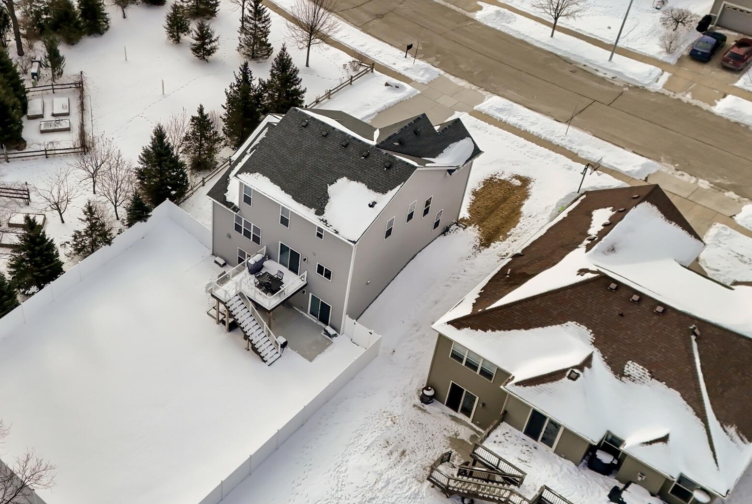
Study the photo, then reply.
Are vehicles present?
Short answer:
Yes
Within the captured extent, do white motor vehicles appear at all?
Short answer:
No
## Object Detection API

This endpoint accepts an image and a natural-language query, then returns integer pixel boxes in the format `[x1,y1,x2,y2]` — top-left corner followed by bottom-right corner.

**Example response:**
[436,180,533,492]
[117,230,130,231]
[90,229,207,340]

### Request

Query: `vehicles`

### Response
[693,32,728,58]
[725,39,752,66]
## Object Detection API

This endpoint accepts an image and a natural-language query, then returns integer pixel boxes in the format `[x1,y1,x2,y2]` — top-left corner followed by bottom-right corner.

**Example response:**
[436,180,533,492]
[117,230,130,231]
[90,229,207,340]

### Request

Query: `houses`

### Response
[707,0,752,34]
[200,109,484,337]
[423,179,752,504]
